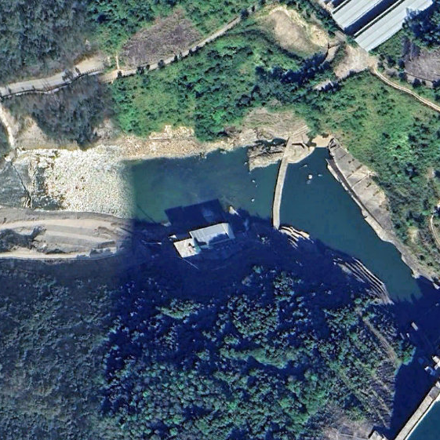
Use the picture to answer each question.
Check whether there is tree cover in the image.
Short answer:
Yes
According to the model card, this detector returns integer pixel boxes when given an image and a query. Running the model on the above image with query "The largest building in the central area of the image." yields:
[174,223,236,258]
